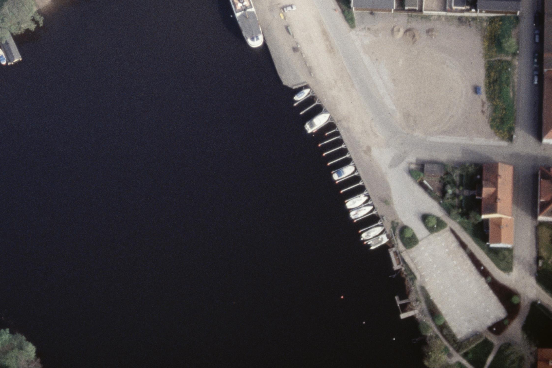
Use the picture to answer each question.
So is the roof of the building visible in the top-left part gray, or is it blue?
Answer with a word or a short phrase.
gray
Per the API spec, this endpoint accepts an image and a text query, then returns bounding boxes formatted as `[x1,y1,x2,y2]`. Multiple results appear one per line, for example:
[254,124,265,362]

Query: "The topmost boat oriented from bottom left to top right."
[293,88,309,103]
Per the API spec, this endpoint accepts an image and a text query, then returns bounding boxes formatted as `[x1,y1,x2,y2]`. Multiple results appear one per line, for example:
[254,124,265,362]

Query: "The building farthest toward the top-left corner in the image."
[0,32,22,66]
